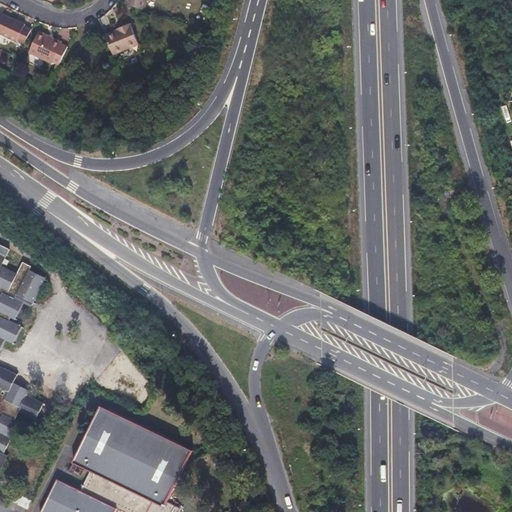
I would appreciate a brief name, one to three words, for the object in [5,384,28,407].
house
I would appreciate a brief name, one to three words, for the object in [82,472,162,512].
building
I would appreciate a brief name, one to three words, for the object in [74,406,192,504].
building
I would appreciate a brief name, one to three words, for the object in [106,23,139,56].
house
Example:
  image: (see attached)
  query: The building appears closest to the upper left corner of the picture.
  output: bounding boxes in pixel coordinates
[0,12,33,44]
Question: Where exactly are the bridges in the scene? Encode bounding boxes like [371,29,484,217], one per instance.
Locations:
[321,294,459,432]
